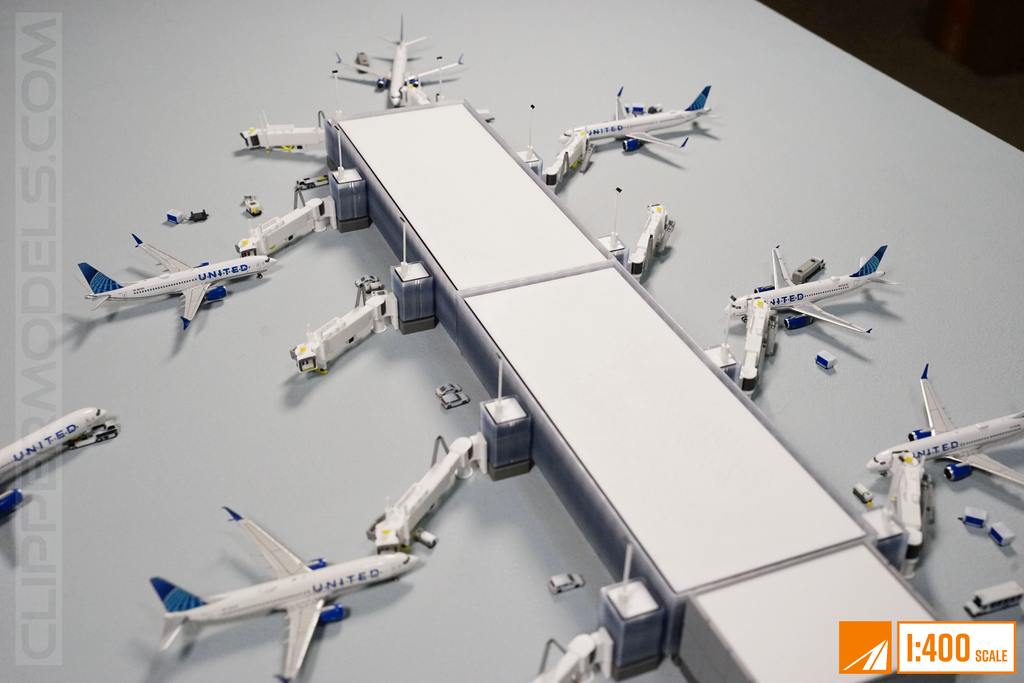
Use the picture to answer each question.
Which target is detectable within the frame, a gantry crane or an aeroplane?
aeroplane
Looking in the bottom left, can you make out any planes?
Yes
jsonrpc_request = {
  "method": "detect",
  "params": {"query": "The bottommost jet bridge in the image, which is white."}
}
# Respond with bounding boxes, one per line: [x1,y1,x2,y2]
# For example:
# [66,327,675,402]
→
[527,626,614,683]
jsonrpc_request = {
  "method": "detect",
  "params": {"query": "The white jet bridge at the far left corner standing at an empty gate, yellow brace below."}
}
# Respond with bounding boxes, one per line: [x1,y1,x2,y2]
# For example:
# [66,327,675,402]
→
[241,113,327,158]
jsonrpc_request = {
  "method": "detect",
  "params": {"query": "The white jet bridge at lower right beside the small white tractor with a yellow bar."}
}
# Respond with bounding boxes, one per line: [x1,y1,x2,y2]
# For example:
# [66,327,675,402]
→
[890,446,933,575]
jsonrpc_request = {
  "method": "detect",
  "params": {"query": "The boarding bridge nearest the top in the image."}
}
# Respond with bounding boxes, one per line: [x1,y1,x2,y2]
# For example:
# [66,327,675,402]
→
[401,78,439,107]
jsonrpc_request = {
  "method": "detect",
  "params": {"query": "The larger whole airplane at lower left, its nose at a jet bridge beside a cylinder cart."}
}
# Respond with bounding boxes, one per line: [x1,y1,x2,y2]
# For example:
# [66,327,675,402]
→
[143,507,416,683]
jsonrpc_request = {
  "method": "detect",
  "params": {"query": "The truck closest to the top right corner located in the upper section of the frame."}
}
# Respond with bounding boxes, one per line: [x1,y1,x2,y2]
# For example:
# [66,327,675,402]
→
[793,257,825,283]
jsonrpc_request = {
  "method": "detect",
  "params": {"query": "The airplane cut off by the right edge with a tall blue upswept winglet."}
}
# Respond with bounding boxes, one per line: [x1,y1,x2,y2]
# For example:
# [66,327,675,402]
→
[863,360,1024,485]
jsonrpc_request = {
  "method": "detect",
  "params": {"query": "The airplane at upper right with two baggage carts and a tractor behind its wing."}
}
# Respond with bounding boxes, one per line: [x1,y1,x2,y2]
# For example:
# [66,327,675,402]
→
[559,85,727,150]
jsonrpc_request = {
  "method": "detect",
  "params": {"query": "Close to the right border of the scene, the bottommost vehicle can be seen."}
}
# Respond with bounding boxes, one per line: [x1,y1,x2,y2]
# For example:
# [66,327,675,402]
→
[966,579,1024,616]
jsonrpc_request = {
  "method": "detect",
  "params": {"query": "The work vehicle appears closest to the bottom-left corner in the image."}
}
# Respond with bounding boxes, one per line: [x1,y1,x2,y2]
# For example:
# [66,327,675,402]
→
[68,424,120,448]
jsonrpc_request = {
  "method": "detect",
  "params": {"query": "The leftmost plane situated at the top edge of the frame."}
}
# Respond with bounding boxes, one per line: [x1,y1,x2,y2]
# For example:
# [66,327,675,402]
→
[334,16,467,105]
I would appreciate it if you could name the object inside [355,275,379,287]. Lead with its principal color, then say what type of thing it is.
gray vehicle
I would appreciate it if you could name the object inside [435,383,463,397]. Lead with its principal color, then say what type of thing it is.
gray car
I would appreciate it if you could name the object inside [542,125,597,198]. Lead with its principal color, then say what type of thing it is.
white jet bridge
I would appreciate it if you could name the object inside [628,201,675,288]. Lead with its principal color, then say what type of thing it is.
white jet bridge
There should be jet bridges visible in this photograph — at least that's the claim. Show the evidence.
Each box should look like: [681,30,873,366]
[628,201,675,288]
[890,446,933,575]
[527,626,614,683]
[401,78,439,107]
[739,296,778,405]
[542,125,597,198]
[234,189,340,256]
[289,286,402,374]
[367,430,490,555]
[241,113,327,158]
